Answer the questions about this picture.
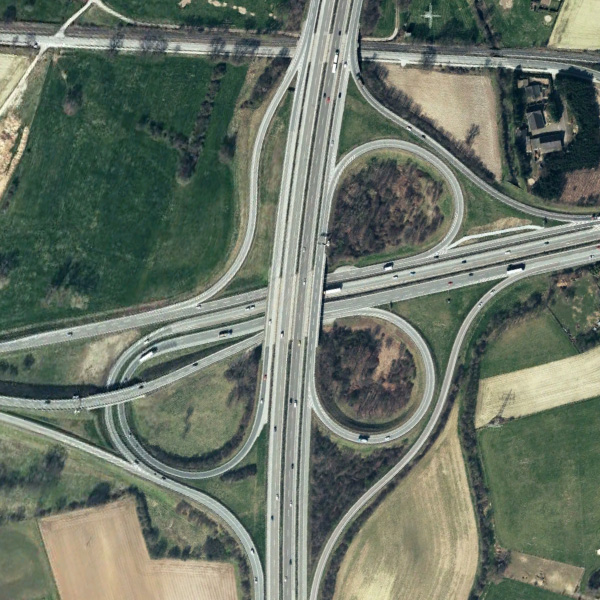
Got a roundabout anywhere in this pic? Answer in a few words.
No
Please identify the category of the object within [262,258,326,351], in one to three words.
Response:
overpass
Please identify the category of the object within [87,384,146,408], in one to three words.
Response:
overpass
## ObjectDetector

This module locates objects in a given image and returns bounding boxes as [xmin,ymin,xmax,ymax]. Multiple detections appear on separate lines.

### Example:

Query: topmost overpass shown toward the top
[294,22,362,72]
